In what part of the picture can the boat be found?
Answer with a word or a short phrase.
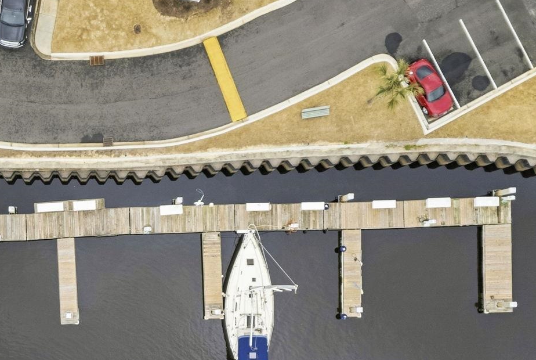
bottom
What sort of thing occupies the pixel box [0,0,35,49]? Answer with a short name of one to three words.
vehicle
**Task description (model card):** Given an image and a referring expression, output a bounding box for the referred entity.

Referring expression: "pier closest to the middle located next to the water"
[234,202,324,232]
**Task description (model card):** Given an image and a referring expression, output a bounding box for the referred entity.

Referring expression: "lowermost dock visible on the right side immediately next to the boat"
[336,229,363,318]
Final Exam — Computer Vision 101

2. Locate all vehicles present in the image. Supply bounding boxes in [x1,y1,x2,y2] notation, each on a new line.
[0,0,35,49]
[408,57,454,118]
